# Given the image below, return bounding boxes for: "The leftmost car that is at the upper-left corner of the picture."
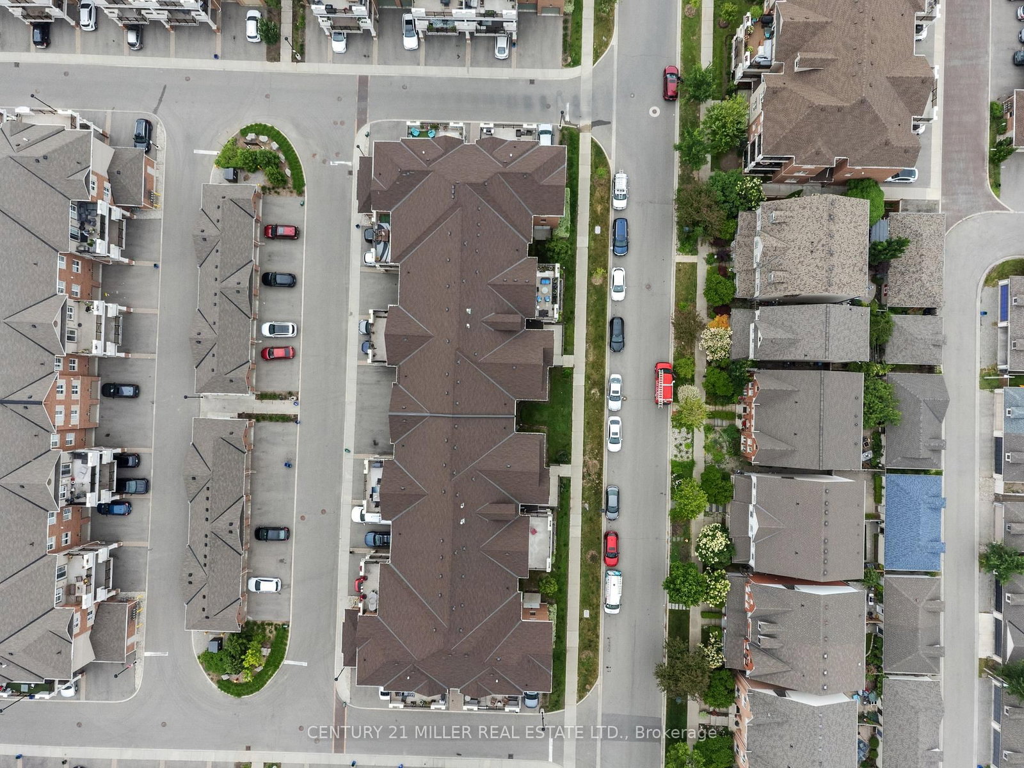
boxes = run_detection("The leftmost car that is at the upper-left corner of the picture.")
[31,27,53,56]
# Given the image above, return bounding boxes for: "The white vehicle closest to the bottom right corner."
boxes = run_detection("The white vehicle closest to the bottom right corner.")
[605,569,624,615]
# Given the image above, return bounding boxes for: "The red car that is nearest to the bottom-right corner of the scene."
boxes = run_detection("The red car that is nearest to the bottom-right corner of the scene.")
[604,531,621,567]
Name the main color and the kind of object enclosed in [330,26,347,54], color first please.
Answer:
white car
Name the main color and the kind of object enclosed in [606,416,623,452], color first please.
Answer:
white car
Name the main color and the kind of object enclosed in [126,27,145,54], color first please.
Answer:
gray car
